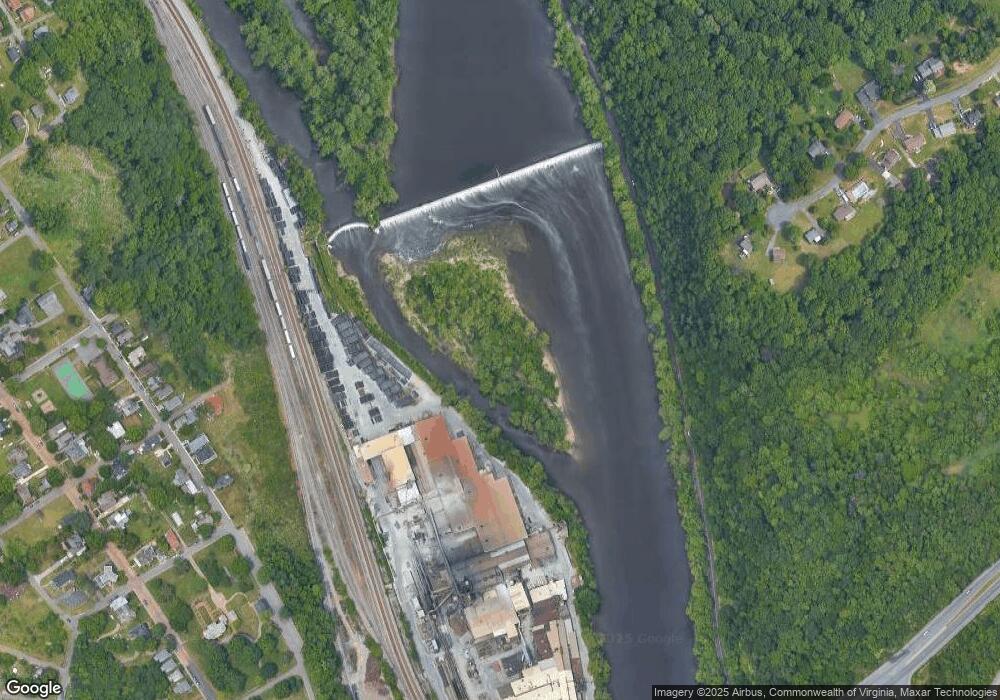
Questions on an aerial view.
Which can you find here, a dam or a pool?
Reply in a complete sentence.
Looking from above, you can make out a dam.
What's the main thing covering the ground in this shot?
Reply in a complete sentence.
For the most part, this view shows trees.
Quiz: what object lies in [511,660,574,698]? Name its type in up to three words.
building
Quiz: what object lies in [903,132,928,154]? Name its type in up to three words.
house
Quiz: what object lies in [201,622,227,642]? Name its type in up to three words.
house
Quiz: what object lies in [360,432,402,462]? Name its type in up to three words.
building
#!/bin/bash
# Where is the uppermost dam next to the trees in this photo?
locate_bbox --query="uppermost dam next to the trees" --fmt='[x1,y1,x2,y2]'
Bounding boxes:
[379,143,603,229]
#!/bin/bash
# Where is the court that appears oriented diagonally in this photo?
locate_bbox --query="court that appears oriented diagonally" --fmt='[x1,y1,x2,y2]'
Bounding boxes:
[52,357,95,402]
